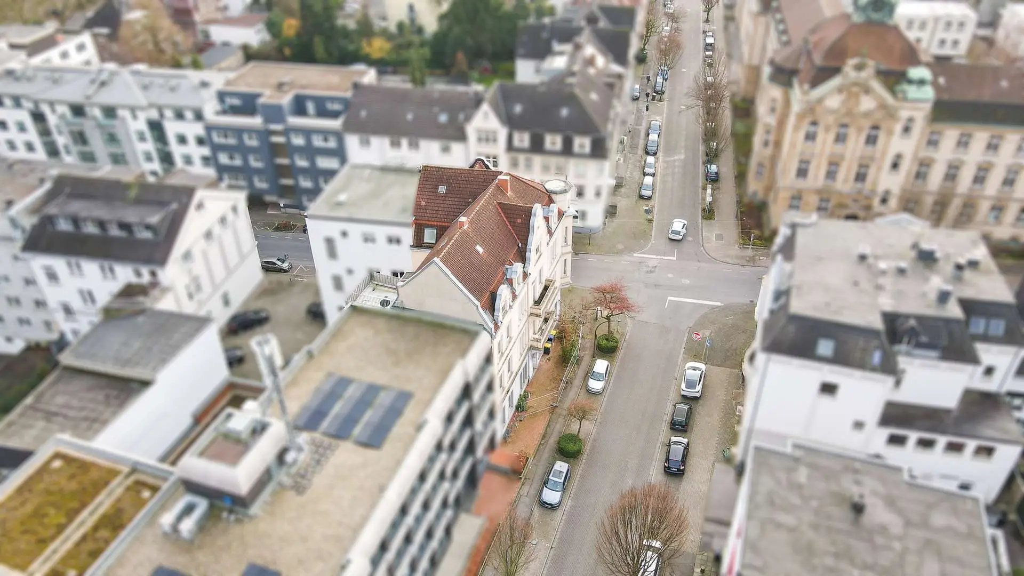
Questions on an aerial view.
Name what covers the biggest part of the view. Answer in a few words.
buildings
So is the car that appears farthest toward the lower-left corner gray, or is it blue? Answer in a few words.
gray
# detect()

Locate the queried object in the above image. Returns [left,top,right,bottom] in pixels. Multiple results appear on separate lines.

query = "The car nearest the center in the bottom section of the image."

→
[586,361,611,394]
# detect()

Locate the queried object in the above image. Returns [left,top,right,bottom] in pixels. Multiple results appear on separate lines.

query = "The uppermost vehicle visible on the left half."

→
[291,219,311,234]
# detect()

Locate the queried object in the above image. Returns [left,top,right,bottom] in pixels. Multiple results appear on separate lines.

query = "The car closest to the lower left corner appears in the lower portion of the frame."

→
[220,345,255,365]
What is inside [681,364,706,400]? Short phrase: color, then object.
white car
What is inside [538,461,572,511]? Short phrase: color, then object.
white car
